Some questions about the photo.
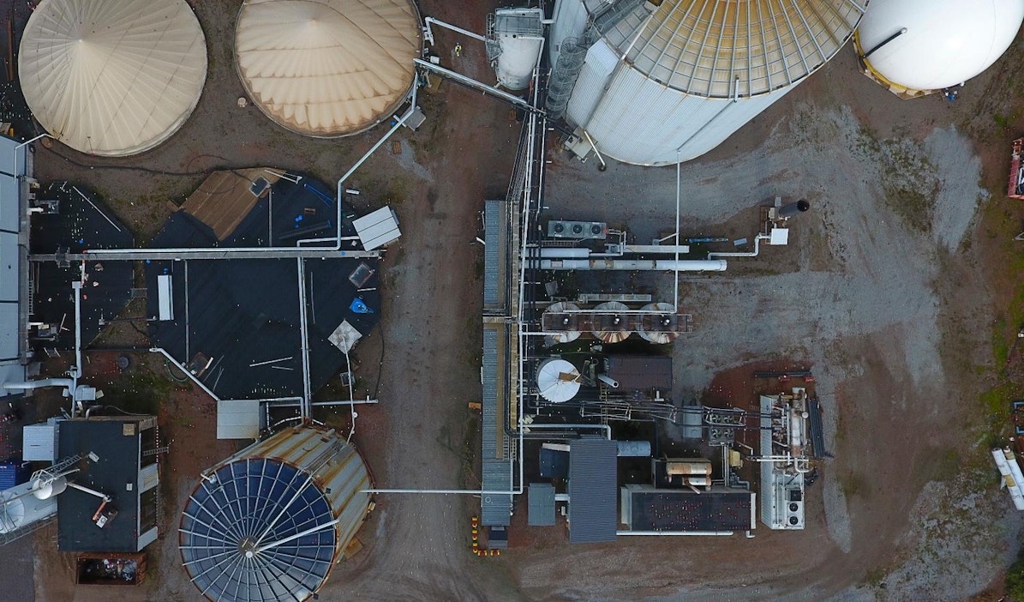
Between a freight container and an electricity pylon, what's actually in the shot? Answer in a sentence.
There is a freight container in the scene.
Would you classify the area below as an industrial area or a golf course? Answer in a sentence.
What you see here is an industrial area.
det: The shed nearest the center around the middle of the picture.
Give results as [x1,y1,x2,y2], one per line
[482,201,505,311]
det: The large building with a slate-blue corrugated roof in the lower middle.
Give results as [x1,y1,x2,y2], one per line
[565,437,617,542]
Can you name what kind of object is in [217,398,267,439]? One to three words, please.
shed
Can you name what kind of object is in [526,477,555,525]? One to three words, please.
shed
